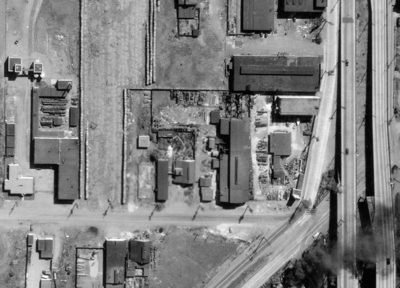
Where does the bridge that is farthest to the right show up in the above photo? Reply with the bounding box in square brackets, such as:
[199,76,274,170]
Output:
[370,0,396,288]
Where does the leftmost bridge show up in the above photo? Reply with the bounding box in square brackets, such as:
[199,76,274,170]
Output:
[335,0,359,288]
